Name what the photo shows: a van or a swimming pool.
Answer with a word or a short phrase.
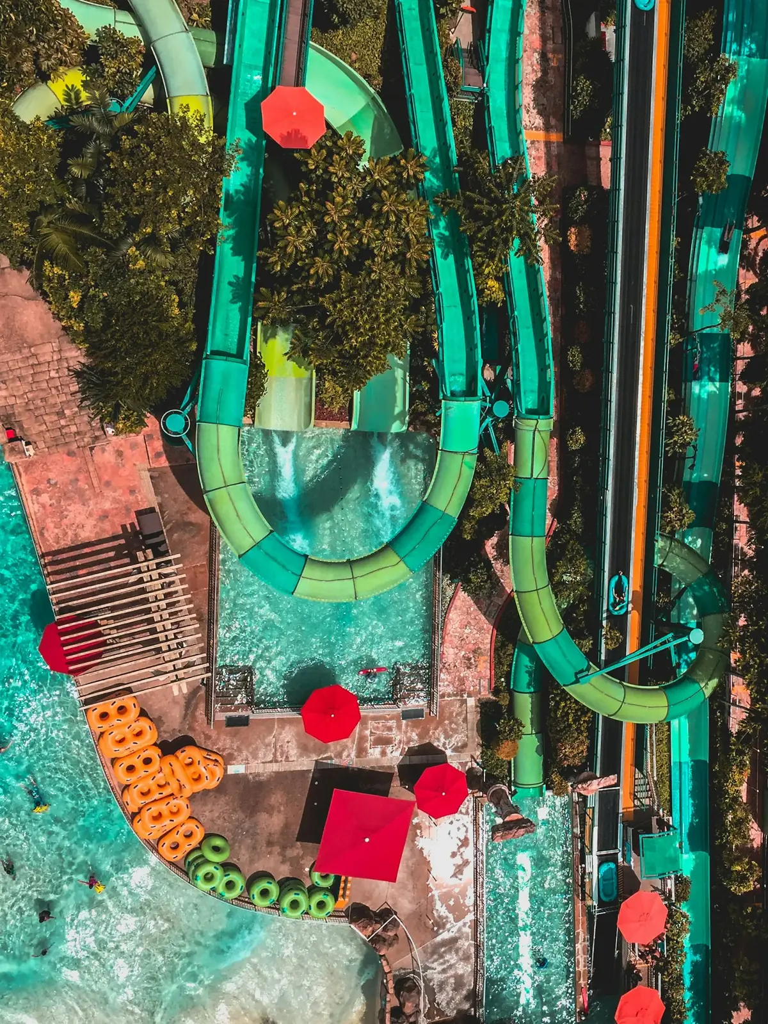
swimming pool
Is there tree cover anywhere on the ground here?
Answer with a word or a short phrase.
Yes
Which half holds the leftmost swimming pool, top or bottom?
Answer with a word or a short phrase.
bottom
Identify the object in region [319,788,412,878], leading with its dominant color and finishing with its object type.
red umbrella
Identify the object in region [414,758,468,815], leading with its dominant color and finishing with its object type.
red umbrella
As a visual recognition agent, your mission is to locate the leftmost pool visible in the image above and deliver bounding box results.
[0,453,387,1024]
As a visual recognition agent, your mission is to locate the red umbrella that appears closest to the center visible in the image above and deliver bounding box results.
[302,682,360,741]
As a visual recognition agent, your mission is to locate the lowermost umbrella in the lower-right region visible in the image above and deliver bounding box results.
[612,961,665,1024]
